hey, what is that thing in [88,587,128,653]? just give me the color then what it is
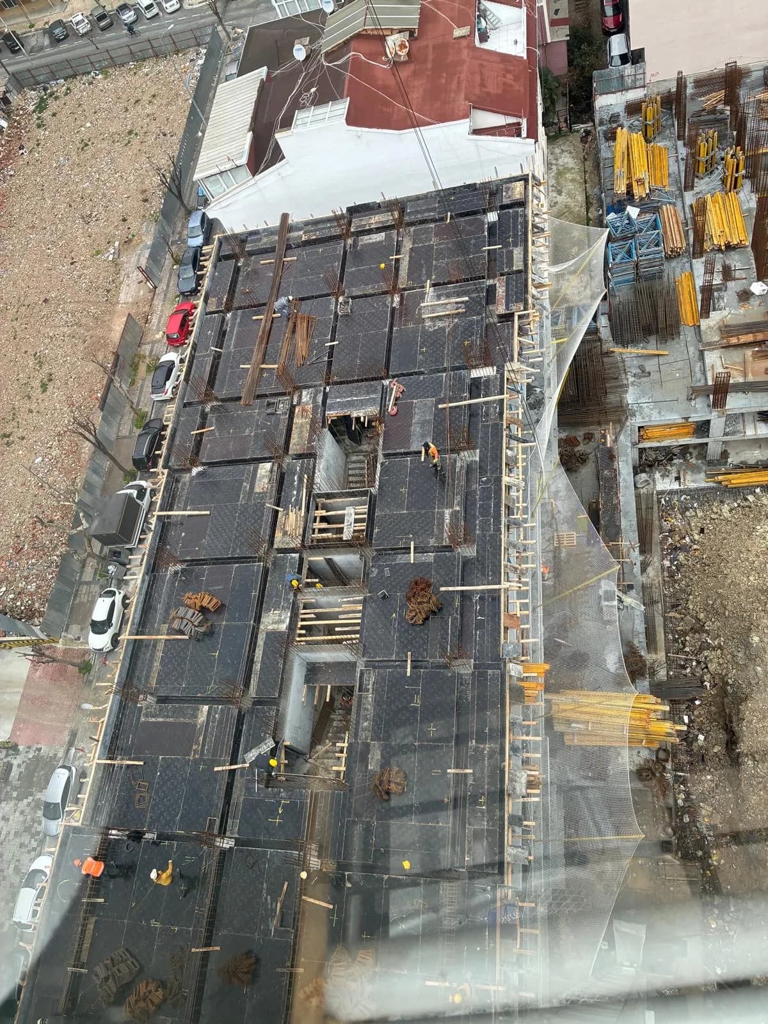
white car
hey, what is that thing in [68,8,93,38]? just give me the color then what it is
white car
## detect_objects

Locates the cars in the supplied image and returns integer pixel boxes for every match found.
[114,0,139,28]
[46,15,70,45]
[163,304,197,347]
[88,587,128,653]
[183,209,214,251]
[6,850,56,938]
[147,353,185,403]
[192,185,214,210]
[599,0,627,36]
[68,8,93,38]
[0,28,22,56]
[135,0,161,23]
[604,27,633,65]
[127,417,169,471]
[160,0,183,16]
[174,248,206,296]
[90,2,115,33]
